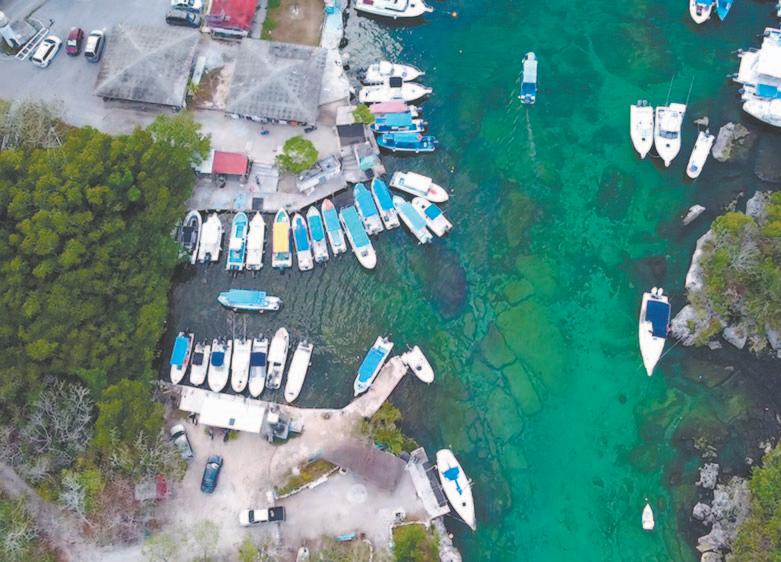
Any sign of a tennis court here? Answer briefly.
No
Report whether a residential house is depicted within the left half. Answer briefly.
Yes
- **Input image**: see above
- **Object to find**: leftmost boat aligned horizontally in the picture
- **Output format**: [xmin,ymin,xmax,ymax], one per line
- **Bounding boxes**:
[217,288,287,313]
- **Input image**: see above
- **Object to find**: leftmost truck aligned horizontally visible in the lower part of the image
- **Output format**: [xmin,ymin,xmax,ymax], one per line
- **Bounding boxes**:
[239,506,286,528]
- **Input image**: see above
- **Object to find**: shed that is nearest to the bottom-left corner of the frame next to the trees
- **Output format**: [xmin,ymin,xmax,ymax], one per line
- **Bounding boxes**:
[135,474,171,501]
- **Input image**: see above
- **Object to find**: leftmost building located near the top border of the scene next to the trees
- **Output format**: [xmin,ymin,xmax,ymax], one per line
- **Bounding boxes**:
[94,24,202,114]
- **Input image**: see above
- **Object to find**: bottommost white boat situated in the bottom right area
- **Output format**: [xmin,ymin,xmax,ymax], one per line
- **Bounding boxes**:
[641,502,655,531]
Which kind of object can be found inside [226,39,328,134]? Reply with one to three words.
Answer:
building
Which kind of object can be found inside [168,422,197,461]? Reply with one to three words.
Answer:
car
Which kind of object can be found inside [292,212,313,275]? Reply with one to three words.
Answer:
boat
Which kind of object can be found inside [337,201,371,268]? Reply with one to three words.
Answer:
boat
